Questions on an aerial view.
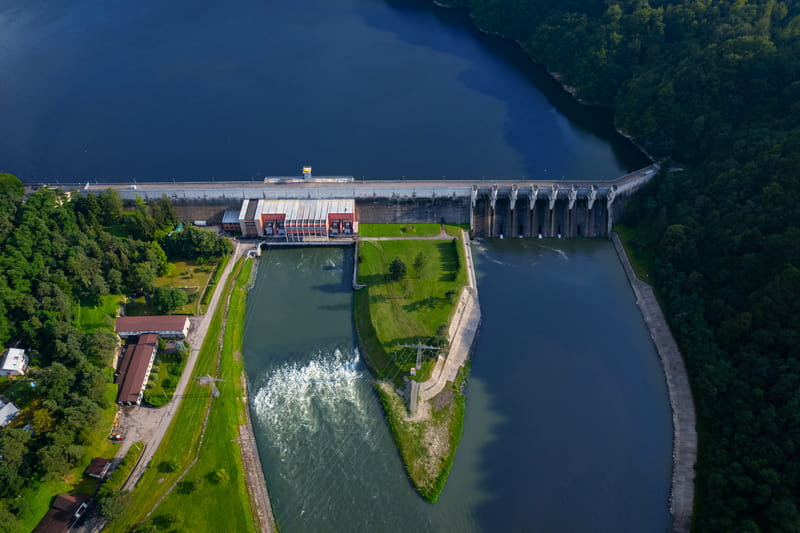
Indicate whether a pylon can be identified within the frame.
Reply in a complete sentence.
Yes, a pylon appears in the view.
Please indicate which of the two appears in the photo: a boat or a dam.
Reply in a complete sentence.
Visible in the photo is a dam.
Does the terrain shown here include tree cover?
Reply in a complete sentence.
Yes, tree cover can be seen from above here.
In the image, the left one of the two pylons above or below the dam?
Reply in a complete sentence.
Looking at the scene, the left one of the two pylons is located below the dam.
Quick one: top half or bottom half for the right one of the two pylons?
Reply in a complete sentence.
The right one of the two pylons is in the bottom half of the image.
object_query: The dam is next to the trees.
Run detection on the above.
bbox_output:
[2,158,661,241]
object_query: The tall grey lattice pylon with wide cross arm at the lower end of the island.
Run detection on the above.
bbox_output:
[397,342,442,372]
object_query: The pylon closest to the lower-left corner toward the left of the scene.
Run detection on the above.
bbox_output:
[192,374,227,398]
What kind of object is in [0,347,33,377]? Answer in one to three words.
house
